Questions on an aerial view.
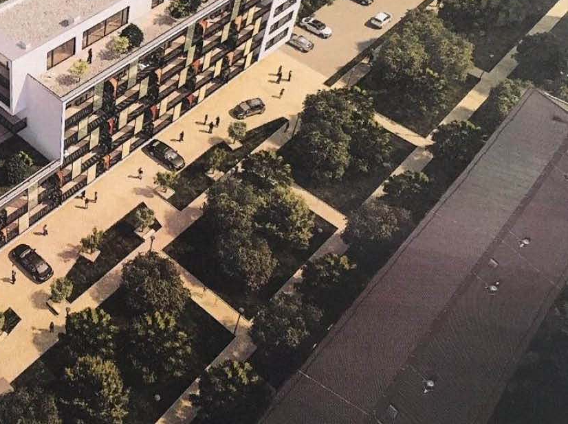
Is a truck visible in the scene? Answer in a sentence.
No, there is no truck in the image.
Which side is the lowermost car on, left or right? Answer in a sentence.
It is on the left.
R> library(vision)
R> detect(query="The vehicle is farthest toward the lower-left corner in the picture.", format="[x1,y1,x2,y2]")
[9,239,53,282]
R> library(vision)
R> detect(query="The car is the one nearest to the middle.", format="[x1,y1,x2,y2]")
[231,89,267,117]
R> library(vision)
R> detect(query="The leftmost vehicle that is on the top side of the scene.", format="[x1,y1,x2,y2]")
[145,135,186,166]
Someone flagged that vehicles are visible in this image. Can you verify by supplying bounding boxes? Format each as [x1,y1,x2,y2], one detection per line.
[305,13,342,37]
[145,135,186,166]
[291,28,325,52]
[369,7,393,25]
[231,89,267,117]
[9,239,53,282]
